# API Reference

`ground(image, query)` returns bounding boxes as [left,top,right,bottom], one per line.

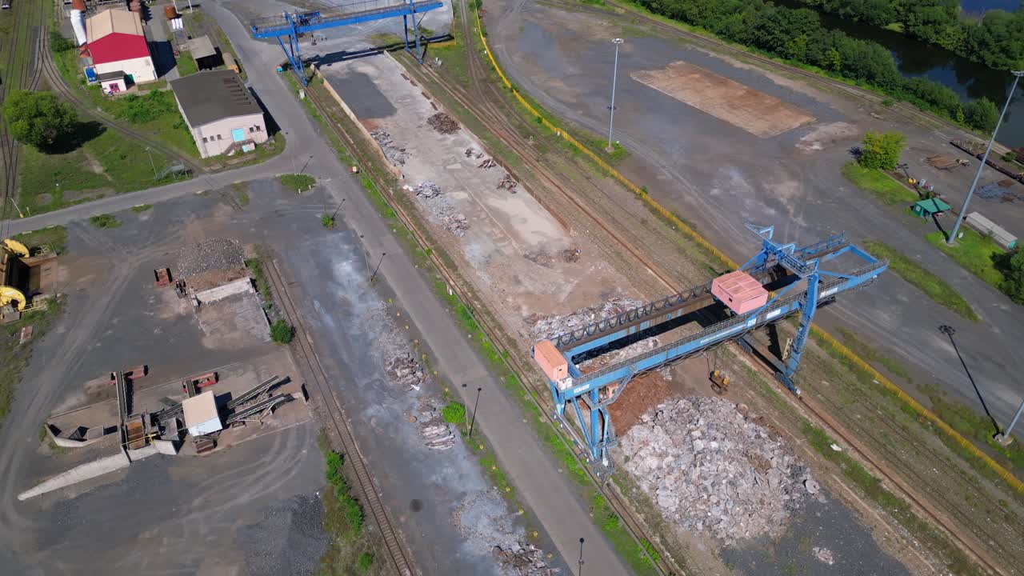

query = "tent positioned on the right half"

[909,198,951,225]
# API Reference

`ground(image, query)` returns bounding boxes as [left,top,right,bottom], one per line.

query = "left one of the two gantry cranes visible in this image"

[251,0,445,90]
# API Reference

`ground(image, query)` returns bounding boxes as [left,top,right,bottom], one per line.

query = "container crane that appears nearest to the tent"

[527,211,890,485]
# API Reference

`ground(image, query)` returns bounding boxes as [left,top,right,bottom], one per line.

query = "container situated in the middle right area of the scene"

[962,208,1019,247]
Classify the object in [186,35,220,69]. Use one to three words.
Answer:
shed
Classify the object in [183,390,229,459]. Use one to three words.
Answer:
shed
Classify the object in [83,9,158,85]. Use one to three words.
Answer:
building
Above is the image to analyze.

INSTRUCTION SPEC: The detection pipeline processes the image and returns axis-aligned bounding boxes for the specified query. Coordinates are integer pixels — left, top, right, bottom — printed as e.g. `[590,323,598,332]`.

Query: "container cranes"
[251,0,445,90]
[527,211,890,485]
